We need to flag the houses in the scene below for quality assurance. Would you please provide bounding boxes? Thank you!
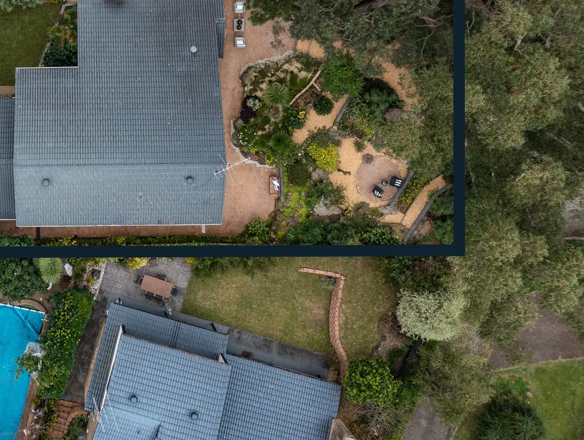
[0,0,226,227]
[69,285,342,440]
